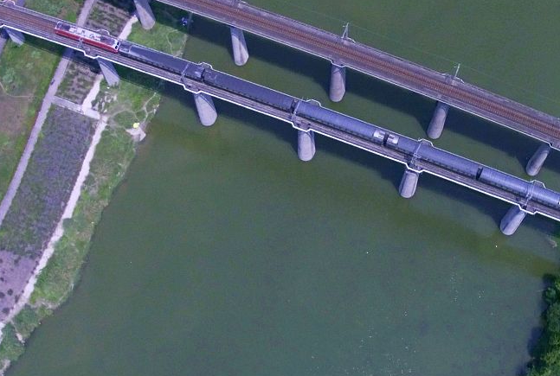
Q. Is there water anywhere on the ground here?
Yes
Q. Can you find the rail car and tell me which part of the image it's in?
top left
